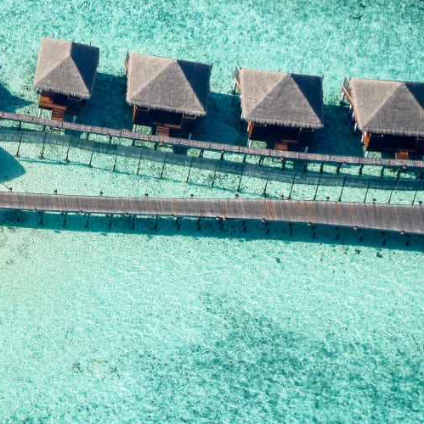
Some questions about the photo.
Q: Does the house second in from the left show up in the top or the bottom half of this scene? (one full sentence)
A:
Seen from above, the house second in from the left lies in the top half of the view.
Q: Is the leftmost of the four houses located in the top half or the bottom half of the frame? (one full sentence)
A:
The leftmost of the four houses is in the top half of the image.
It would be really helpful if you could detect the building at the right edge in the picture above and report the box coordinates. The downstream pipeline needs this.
[339,78,424,160]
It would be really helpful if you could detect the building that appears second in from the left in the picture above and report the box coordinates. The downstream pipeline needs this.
[123,52,214,139]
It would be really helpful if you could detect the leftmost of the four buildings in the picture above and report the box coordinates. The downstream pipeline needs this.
[31,38,100,122]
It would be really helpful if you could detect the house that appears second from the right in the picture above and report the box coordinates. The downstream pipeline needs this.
[230,66,325,152]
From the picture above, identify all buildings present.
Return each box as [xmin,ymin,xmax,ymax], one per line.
[123,52,214,139]
[230,66,325,152]
[339,78,424,160]
[31,38,100,122]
